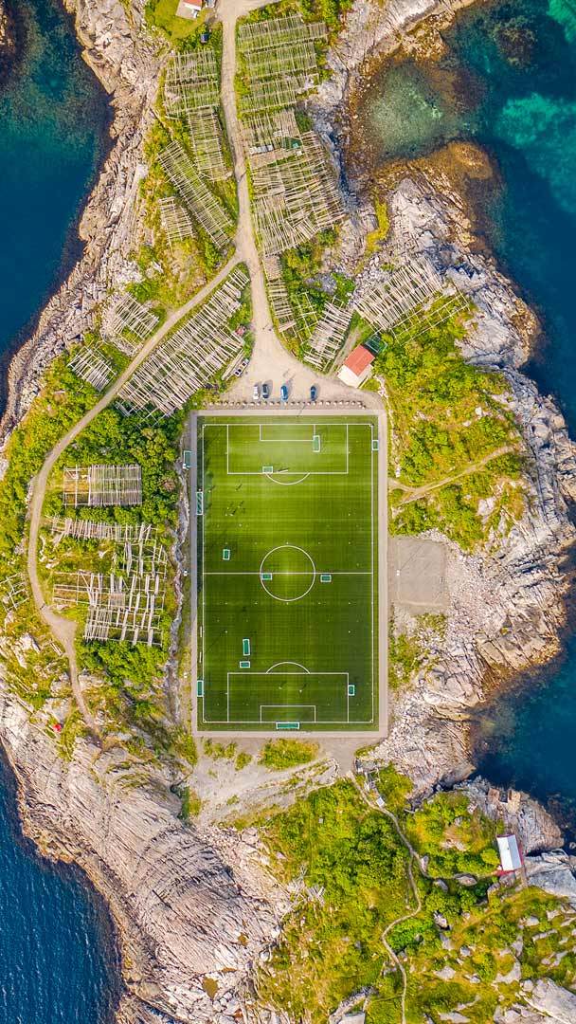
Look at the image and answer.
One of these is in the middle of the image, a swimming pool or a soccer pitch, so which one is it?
soccer pitch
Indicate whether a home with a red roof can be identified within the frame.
Yes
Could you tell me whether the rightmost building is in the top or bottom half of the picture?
bottom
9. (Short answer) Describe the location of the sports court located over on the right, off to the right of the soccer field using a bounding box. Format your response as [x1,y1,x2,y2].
[391,538,447,606]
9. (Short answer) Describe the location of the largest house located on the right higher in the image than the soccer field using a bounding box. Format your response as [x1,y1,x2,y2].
[344,346,375,376]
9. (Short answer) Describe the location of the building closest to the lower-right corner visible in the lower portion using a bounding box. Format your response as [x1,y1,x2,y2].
[497,832,523,874]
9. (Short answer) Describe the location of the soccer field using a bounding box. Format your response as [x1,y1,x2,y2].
[197,416,378,731]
